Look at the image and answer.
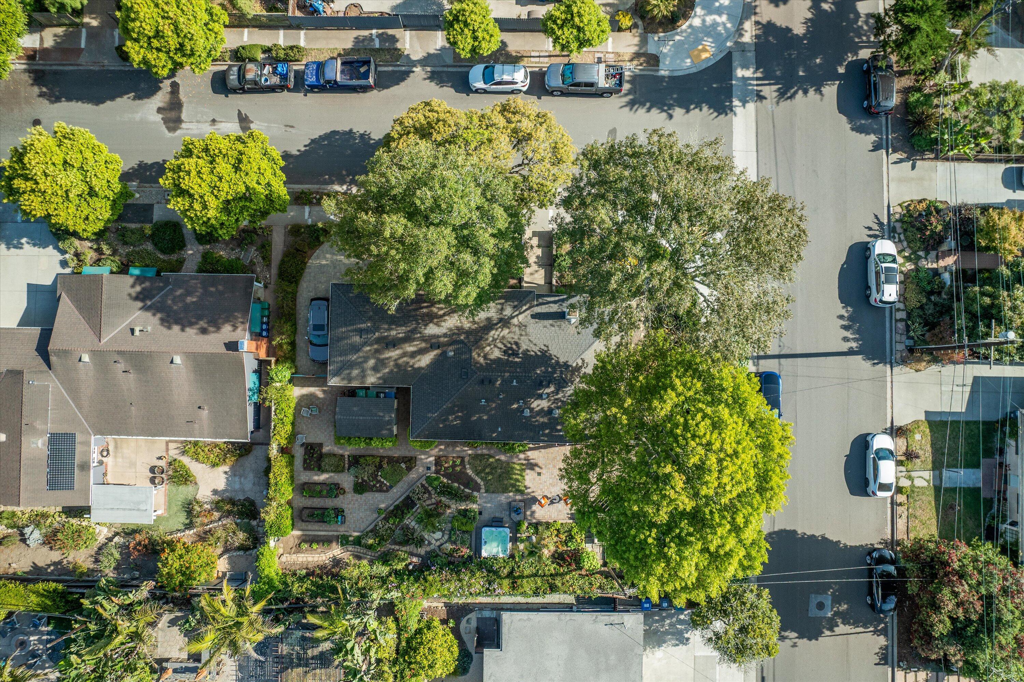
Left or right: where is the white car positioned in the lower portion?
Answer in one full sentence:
It is on the right.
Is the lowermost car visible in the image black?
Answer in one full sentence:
Yes, the lowermost car is black.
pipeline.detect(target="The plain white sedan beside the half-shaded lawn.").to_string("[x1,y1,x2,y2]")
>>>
[867,434,902,498]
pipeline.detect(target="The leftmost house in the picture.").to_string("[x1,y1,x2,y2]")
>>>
[0,272,267,507]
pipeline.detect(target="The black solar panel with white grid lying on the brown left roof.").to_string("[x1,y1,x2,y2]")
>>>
[45,433,77,490]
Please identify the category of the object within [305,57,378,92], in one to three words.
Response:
truck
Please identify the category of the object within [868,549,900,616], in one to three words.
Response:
car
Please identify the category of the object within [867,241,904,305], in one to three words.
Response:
car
